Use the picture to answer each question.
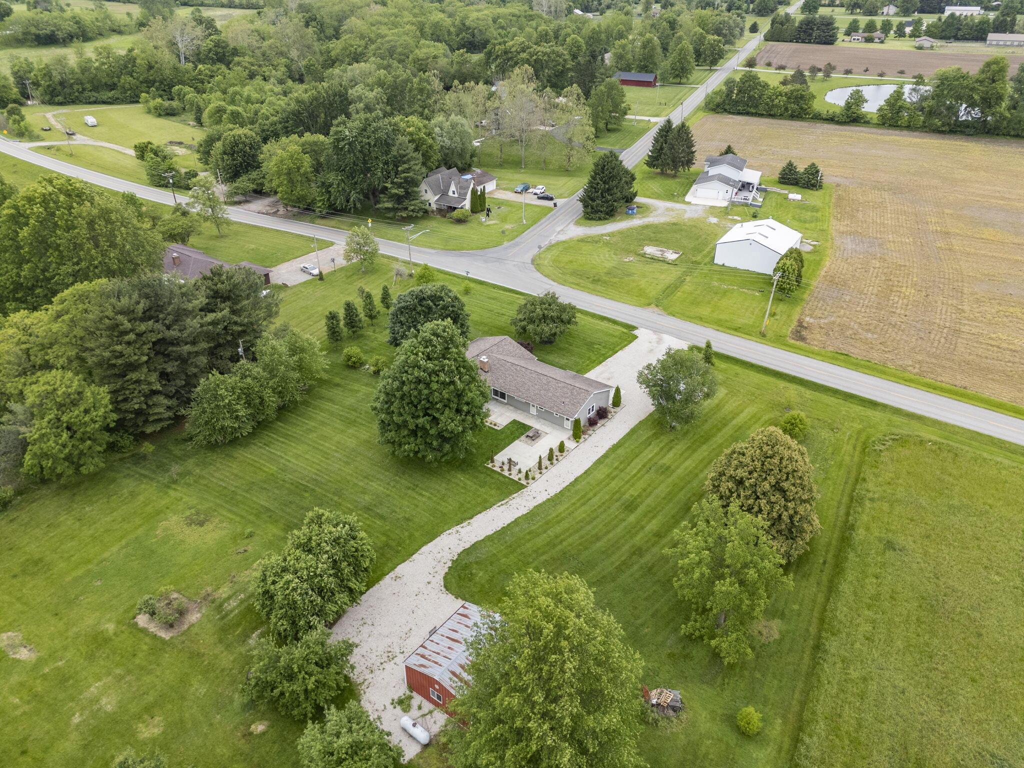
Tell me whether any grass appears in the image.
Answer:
Yes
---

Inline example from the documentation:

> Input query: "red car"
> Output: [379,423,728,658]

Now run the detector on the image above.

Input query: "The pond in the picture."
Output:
[825,84,992,120]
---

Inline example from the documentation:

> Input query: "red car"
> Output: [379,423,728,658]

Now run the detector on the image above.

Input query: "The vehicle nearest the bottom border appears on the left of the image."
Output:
[300,263,319,275]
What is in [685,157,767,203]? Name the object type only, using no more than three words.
house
